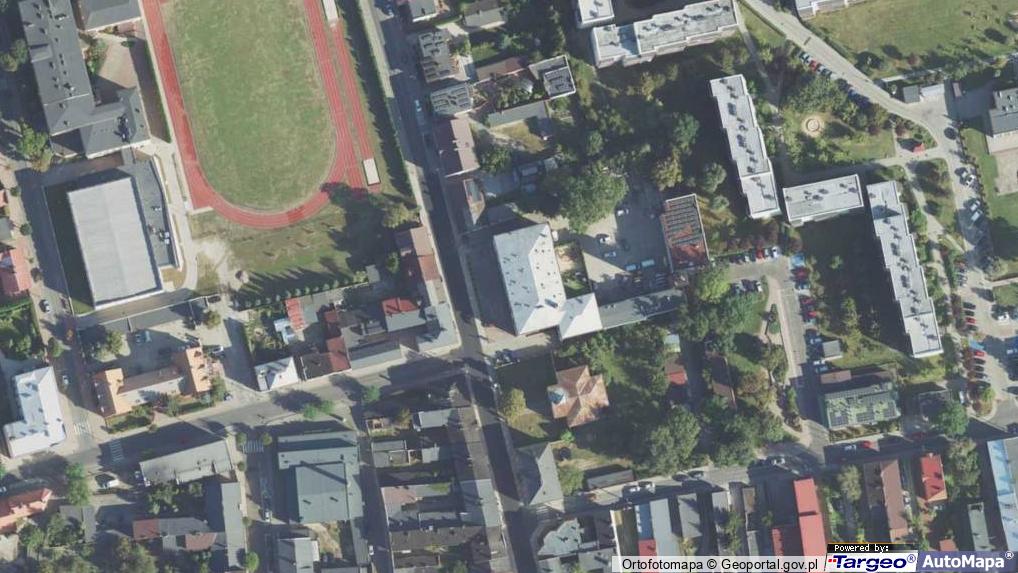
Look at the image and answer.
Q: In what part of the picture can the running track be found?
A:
top left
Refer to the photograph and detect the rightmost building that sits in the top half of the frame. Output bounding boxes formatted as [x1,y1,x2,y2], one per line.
[988,86,1018,139]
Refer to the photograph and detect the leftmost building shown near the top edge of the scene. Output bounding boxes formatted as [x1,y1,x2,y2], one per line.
[19,0,96,139]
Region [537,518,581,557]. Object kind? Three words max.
building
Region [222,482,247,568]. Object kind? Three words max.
house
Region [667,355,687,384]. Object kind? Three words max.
barn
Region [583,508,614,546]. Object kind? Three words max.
shed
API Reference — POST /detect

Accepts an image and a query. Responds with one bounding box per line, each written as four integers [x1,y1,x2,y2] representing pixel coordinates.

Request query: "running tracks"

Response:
[144,0,381,229]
